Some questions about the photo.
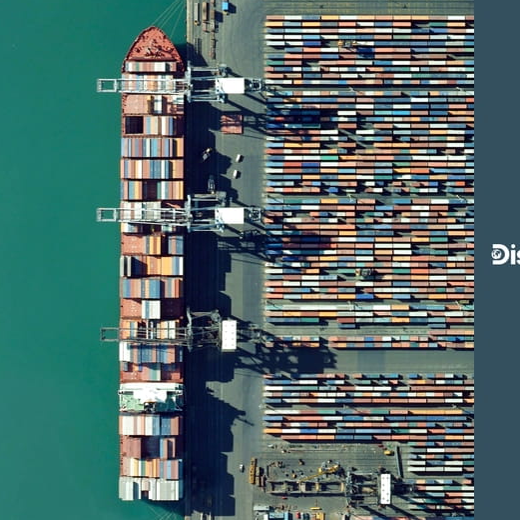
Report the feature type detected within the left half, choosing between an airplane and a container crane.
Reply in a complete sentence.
It is a container crane that can be seen within the left half.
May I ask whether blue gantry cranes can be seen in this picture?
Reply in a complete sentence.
No, no blue gantry crane can be seen from above.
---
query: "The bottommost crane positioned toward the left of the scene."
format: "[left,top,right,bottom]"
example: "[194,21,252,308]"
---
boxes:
[102,302,258,355]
